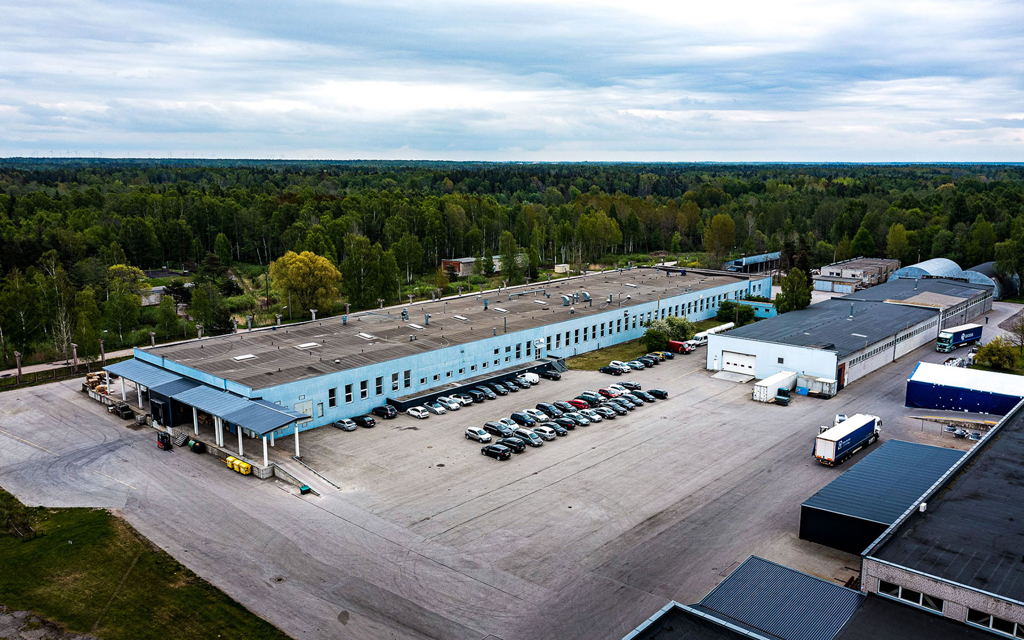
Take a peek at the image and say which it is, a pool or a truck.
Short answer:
truck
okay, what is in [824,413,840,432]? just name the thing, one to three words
work vehicle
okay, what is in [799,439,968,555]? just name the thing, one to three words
shed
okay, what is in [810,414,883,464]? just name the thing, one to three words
truck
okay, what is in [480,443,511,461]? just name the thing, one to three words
car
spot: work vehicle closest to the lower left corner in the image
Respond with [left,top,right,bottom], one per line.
[156,433,178,450]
